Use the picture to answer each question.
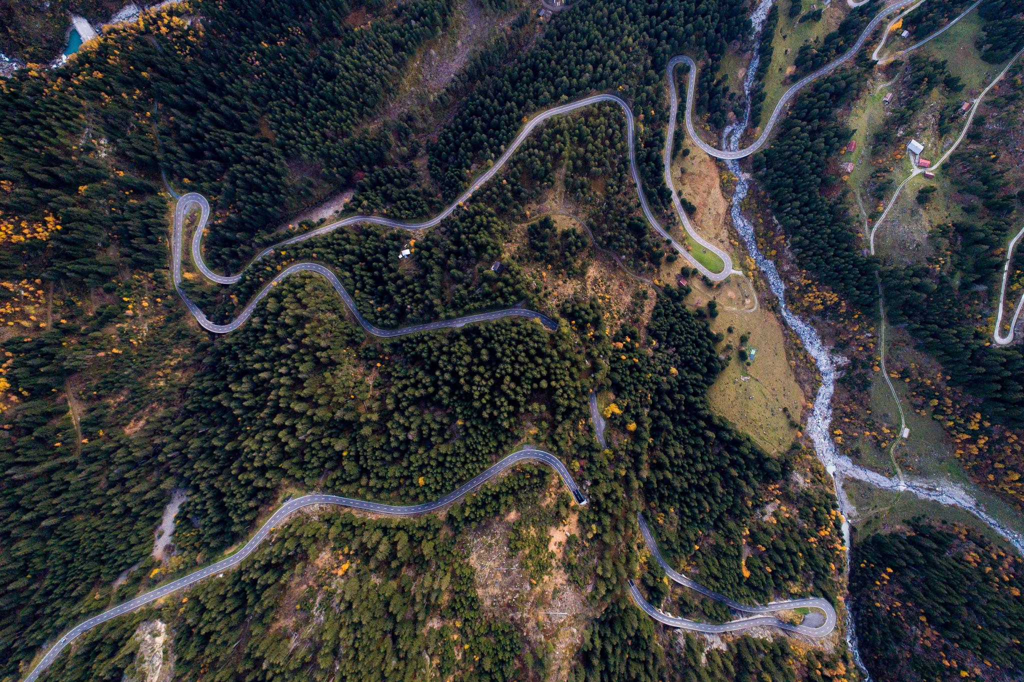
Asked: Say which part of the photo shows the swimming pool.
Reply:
top left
